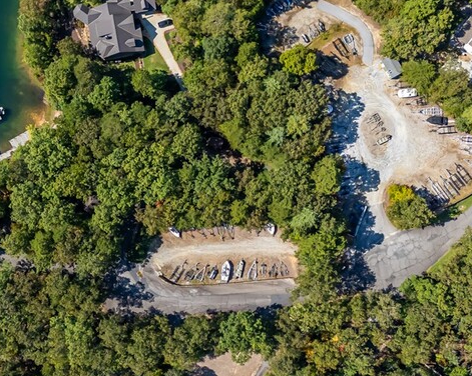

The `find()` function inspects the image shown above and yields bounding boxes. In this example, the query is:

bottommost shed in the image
[378,56,402,81]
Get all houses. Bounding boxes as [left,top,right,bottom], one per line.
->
[451,19,472,56]
[72,0,158,66]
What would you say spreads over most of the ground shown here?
trees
